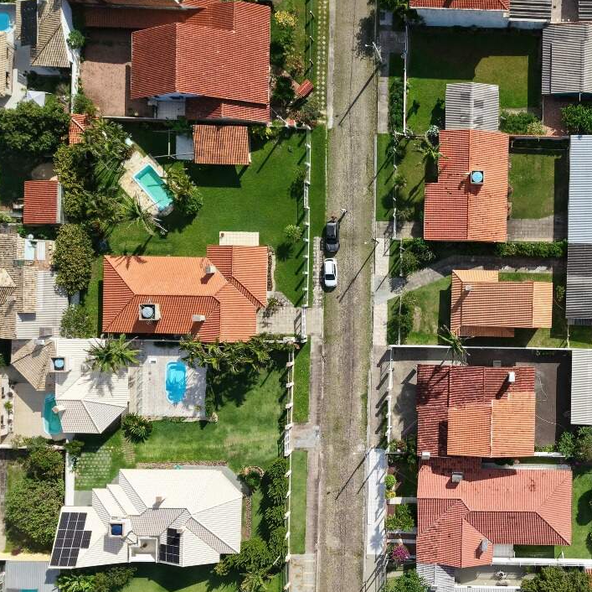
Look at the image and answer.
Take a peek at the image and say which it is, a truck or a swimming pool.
swimming pool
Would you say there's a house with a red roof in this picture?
Yes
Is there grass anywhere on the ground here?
Yes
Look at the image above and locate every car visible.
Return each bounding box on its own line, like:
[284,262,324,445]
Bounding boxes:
[323,220,338,250]
[321,258,337,287]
